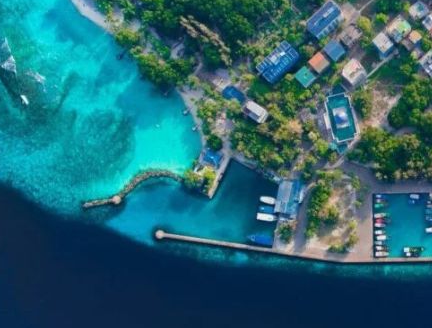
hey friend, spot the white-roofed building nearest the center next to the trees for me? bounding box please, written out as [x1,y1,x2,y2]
[242,99,270,123]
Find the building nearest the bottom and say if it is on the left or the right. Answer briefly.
right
